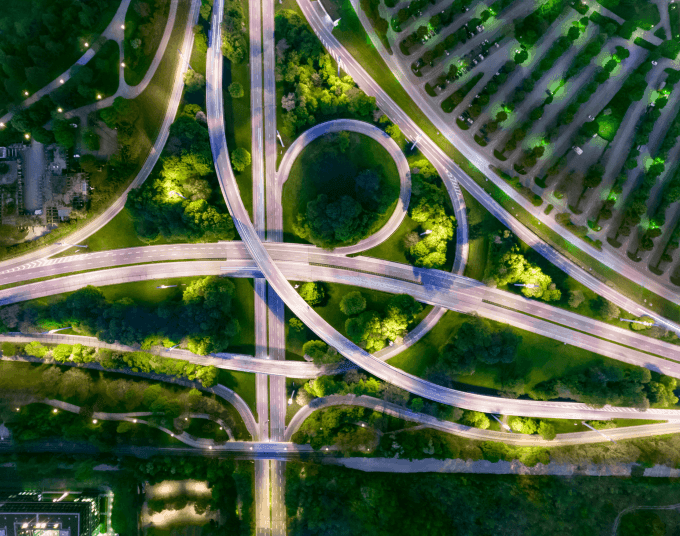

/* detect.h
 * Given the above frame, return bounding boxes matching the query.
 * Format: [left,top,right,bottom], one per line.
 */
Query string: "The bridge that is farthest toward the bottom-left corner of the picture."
[246,440,296,460]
